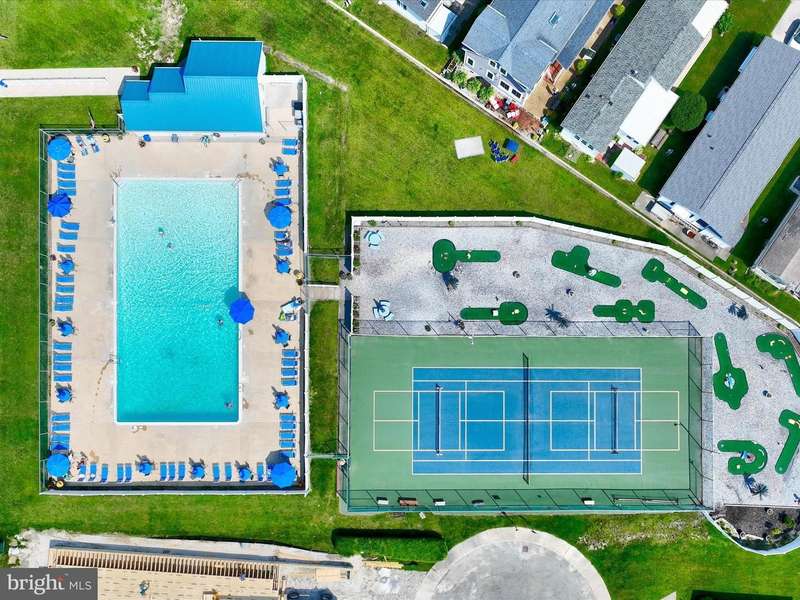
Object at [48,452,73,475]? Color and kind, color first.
blue umbrella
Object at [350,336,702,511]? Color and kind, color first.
green tennis court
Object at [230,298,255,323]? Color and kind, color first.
blue umbrella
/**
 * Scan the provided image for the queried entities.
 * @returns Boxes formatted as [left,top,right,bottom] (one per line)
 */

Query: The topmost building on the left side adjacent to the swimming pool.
[117,40,266,135]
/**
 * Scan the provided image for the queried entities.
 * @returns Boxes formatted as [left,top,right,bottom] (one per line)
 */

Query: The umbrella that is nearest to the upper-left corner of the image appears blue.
[48,137,73,161]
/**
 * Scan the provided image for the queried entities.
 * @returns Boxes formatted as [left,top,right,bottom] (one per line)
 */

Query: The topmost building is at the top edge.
[370,0,456,47]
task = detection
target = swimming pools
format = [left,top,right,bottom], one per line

[107,174,245,425]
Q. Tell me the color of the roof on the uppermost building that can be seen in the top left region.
blue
